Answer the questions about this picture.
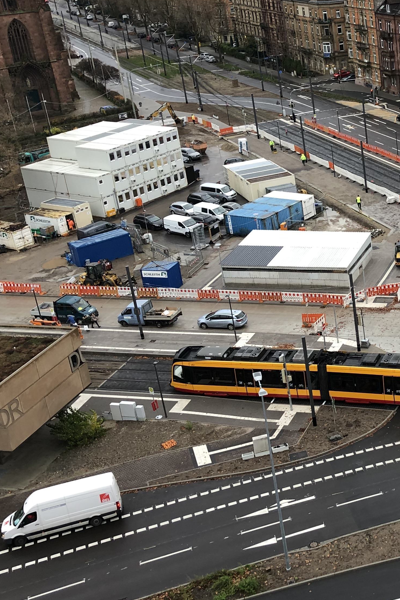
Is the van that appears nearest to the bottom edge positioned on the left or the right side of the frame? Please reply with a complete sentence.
The van that appears nearest to the bottom edge is on the left side of the image.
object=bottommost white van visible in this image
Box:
[0,470,124,548]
